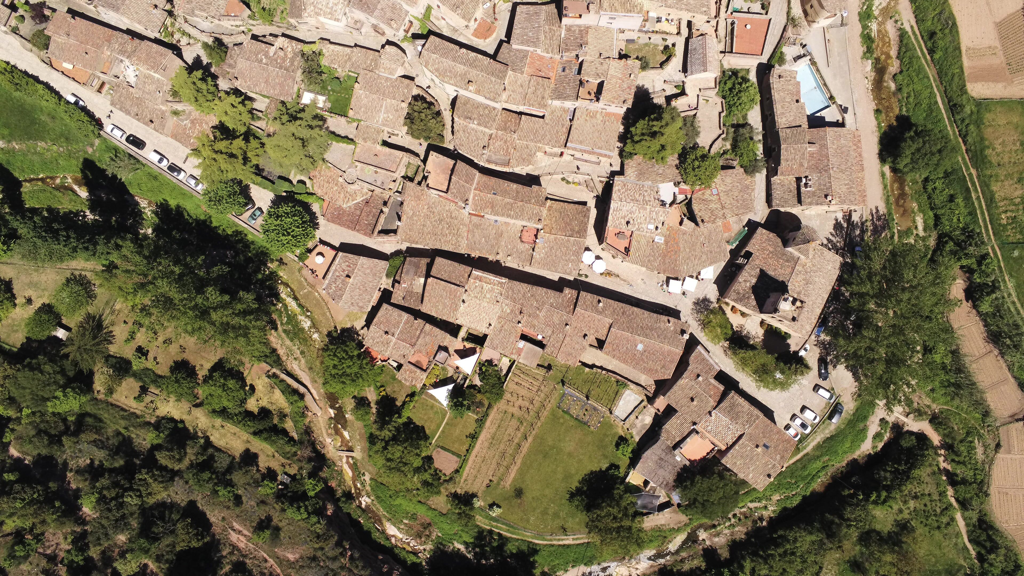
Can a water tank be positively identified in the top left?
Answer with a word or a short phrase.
No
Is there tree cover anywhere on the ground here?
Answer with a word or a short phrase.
Yes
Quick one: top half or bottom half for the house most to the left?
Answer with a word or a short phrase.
top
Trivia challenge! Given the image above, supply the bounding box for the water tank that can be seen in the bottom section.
[614,389,643,420]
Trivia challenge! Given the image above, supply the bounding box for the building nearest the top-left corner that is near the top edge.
[0,4,28,35]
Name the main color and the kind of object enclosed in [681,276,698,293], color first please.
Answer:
white umbrella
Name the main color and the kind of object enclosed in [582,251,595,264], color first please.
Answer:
white umbrella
